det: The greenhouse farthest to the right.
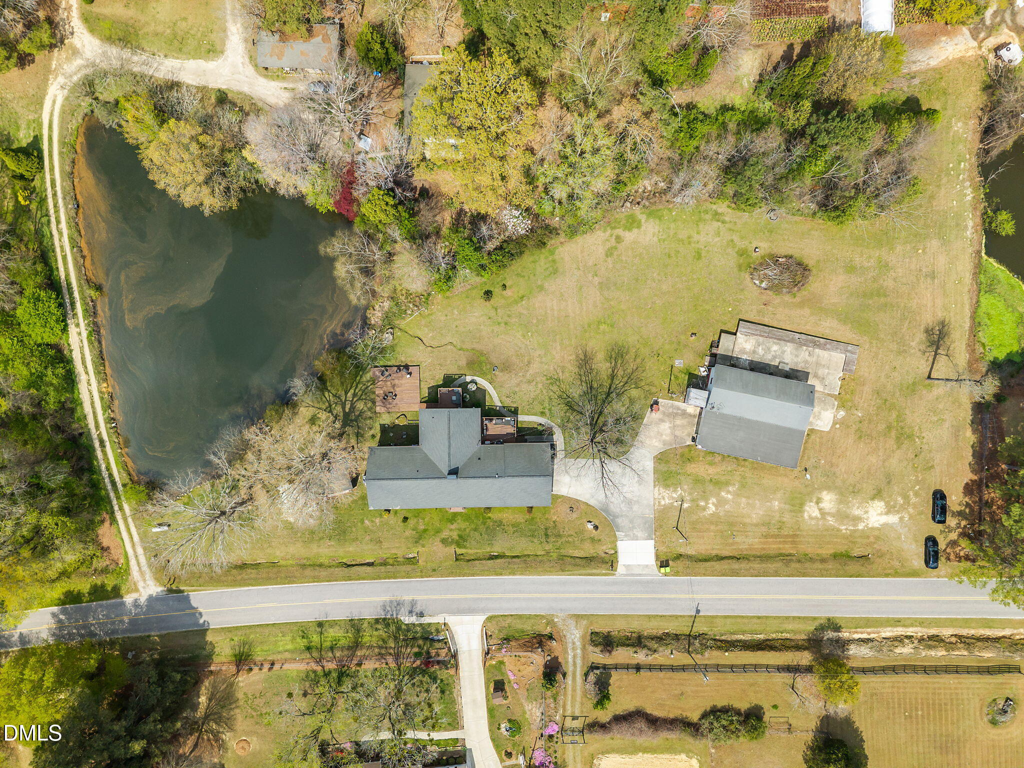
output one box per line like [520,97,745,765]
[861,0,895,34]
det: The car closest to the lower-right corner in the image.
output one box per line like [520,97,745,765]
[925,538,941,570]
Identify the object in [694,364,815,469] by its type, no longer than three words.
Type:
building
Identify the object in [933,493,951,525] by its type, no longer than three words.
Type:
car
